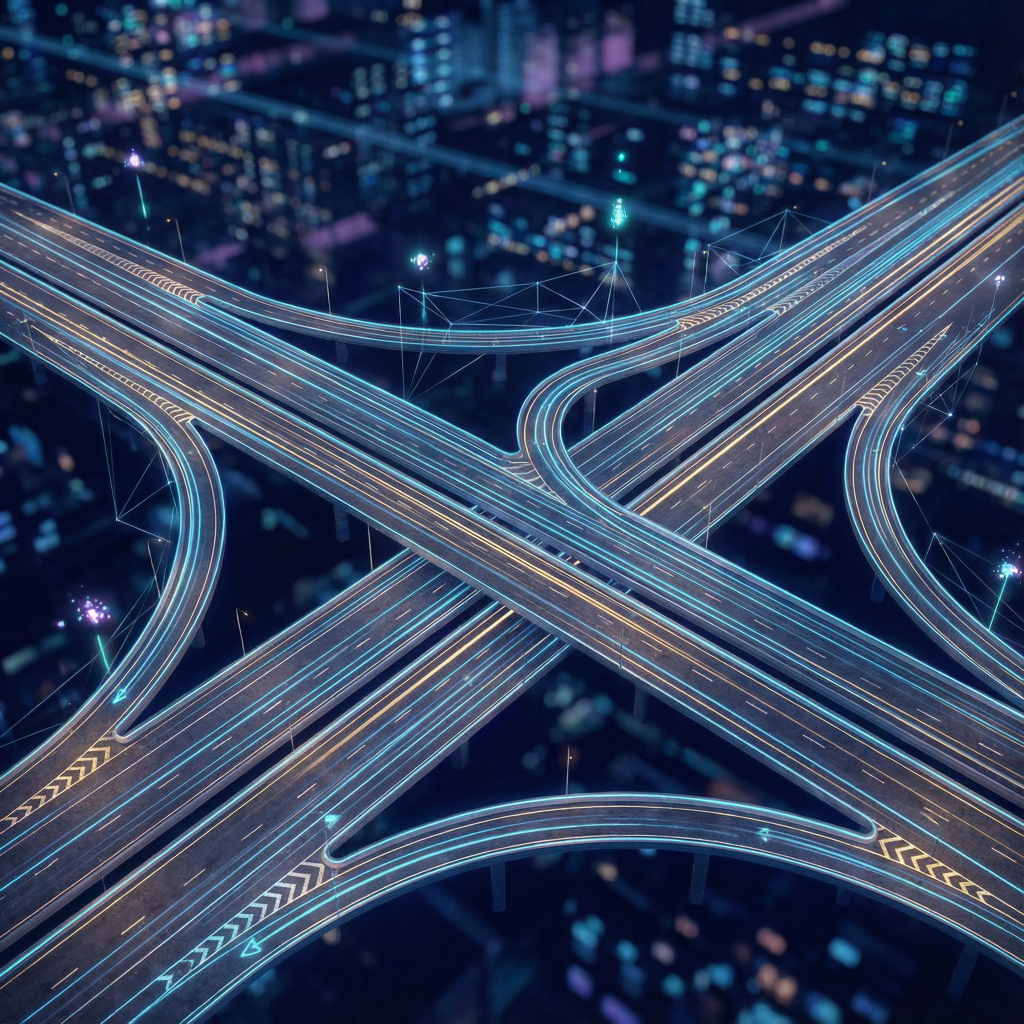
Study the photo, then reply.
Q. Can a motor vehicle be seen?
No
